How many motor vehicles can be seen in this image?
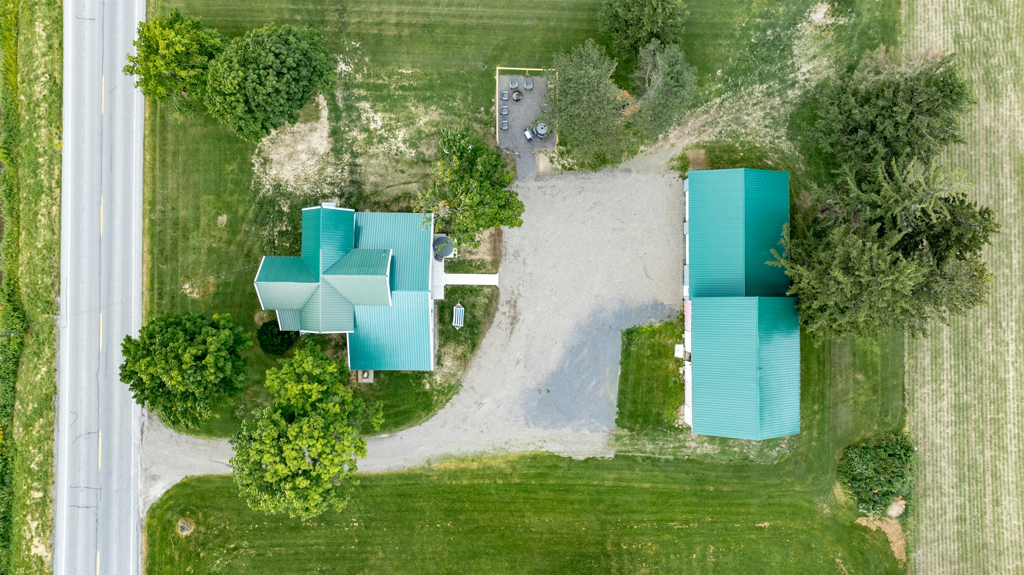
none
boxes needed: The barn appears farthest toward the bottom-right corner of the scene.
[684,297,801,441]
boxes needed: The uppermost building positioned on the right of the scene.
[684,168,789,299]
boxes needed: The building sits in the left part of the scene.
[254,202,434,371]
